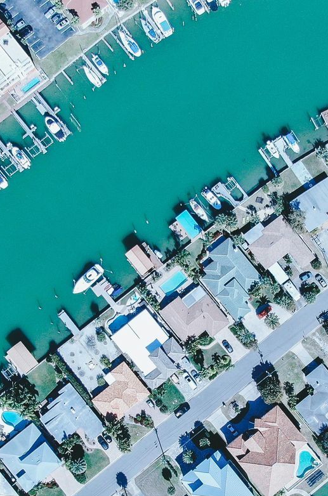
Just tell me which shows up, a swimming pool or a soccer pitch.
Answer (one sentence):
Of the two, only a swimming pool appears.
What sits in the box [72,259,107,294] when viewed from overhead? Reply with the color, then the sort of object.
white boat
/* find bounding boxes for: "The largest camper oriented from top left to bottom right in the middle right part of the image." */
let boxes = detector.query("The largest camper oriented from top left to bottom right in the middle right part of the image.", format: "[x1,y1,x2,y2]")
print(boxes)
[283,280,301,303]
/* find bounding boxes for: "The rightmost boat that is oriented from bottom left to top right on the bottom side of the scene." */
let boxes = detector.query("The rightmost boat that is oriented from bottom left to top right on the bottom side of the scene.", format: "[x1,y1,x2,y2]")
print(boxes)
[127,291,143,304]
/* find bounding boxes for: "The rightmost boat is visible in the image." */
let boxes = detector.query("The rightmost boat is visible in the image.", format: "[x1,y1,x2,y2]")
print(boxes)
[284,132,298,152]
